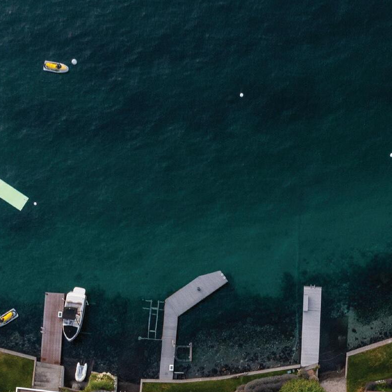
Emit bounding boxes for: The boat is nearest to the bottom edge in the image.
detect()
[75,361,88,383]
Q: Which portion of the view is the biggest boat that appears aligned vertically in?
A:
bottom left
